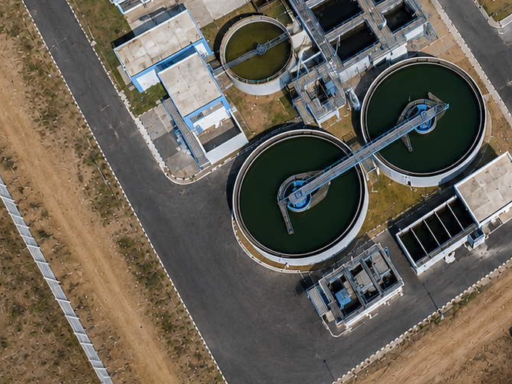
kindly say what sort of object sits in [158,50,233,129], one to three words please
house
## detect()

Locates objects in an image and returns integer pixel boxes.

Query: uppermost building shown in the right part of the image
[285,57,352,128]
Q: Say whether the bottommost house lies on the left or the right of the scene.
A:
right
